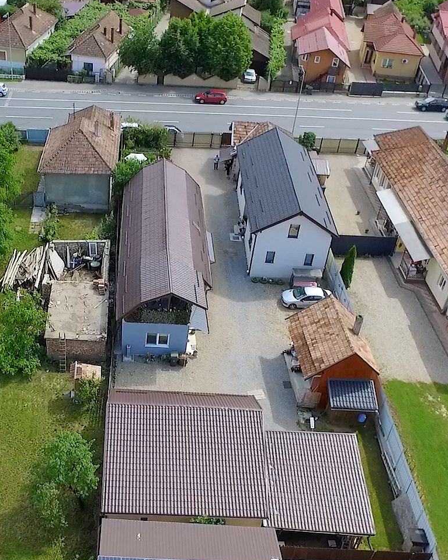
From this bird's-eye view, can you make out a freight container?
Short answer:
No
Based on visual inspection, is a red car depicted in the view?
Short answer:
Yes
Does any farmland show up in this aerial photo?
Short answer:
No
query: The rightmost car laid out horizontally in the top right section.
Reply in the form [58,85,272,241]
[416,95,448,111]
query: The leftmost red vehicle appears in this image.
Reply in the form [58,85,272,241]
[195,88,228,104]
